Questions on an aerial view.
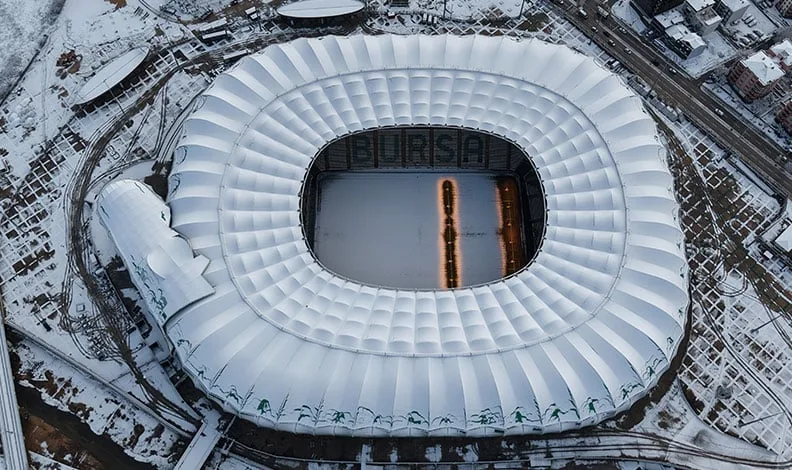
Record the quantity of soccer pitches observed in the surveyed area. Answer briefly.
one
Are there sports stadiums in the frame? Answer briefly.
Yes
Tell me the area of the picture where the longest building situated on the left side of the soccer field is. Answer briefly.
left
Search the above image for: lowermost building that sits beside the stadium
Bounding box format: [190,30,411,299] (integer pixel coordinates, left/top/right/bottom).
[97,179,217,324]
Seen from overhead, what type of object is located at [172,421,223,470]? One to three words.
bridge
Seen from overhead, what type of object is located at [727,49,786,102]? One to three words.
building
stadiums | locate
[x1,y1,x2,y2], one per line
[160,33,689,436]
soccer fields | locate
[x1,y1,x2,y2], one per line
[311,169,531,291]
